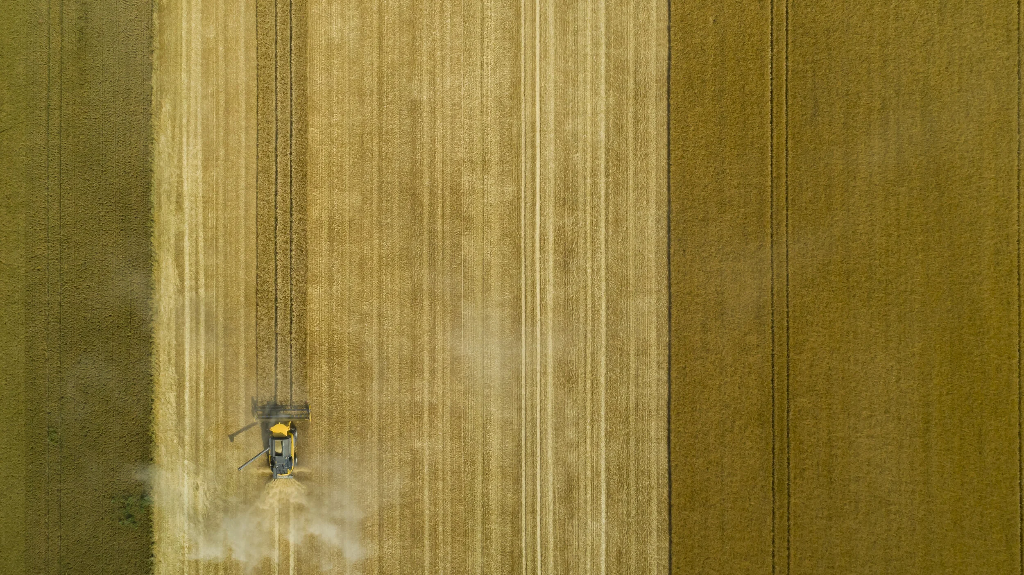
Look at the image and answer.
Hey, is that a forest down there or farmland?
farmland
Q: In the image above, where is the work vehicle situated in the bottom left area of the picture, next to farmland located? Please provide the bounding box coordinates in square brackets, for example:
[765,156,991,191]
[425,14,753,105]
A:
[238,400,312,481]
